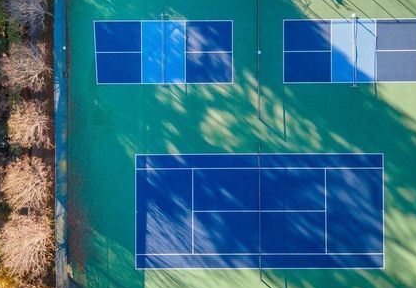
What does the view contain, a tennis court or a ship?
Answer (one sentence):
I can see a tennis court in this picture.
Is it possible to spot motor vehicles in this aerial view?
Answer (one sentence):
No, the scene contains no motor vehicle.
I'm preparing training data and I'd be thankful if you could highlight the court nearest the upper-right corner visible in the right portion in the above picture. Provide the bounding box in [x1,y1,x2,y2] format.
[283,19,416,82]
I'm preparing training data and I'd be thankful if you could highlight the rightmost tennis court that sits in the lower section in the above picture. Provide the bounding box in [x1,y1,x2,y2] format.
[135,153,385,271]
